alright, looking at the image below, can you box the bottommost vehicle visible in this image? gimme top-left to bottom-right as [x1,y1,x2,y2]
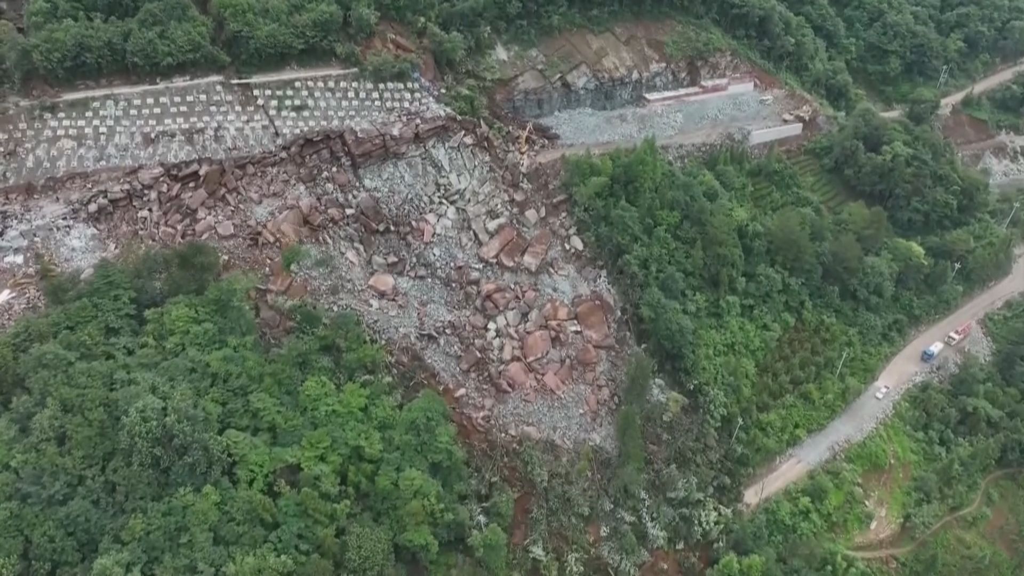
[874,379,893,398]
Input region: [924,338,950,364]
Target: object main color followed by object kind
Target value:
white truck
